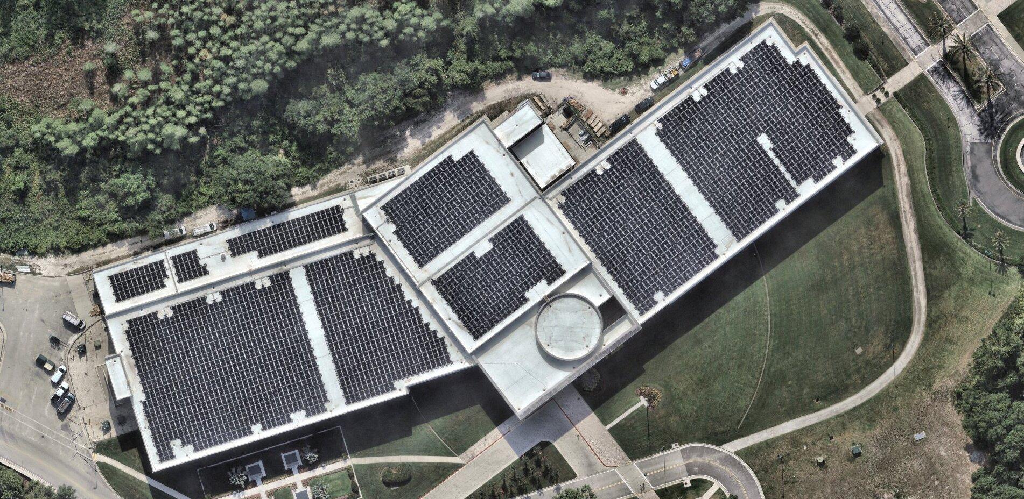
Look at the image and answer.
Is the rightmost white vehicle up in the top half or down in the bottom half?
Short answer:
top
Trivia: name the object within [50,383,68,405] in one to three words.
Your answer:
vehicle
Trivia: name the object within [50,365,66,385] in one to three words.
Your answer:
car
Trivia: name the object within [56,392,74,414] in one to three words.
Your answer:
vehicle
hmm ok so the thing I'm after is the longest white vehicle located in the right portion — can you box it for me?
[650,70,678,90]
